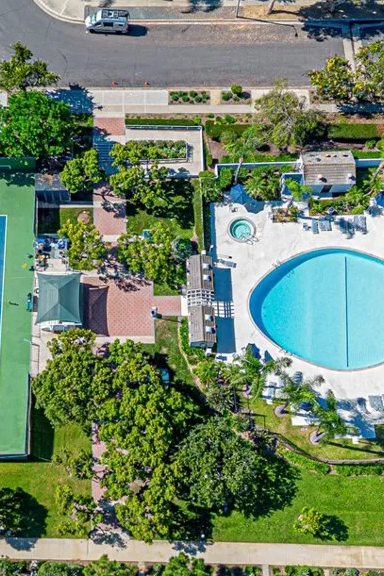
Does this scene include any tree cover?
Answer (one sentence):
Yes, tree cover shows up in the scene.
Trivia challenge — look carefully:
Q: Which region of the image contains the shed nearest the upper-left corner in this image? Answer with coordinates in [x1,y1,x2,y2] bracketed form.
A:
[35,173,71,198]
